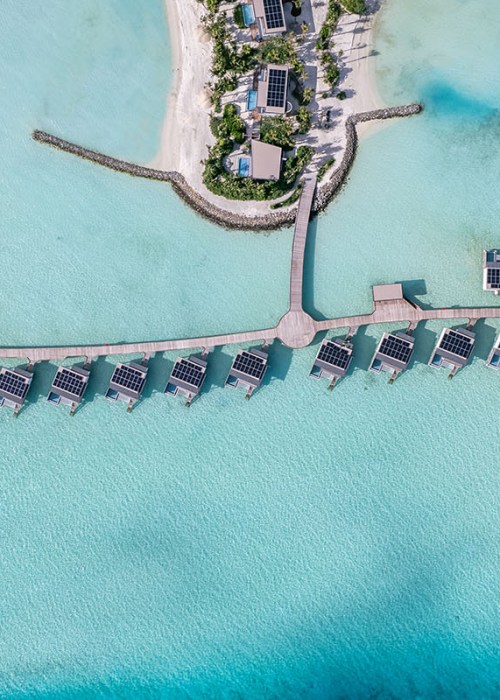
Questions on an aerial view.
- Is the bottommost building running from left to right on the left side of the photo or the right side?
right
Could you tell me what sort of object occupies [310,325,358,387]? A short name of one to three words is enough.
house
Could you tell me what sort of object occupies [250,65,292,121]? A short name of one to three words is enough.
house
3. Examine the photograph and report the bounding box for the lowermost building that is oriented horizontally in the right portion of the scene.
[371,283,421,310]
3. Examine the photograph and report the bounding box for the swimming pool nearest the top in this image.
[240,3,256,28]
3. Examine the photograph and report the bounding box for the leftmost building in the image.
[0,358,38,415]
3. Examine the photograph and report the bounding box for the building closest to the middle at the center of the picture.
[227,338,272,398]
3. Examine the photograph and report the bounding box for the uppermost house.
[249,0,286,44]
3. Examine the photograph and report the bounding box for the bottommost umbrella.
[198,92,213,107]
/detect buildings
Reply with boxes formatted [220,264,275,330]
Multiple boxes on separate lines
[477,252,500,297]
[166,345,211,405]
[251,139,282,183]
[250,65,292,121]
[427,317,477,376]
[371,283,421,310]
[0,358,38,415]
[51,356,94,414]
[368,320,417,381]
[107,352,152,411]
[249,0,286,44]
[227,338,272,398]
[310,325,358,387]
[484,327,500,366]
